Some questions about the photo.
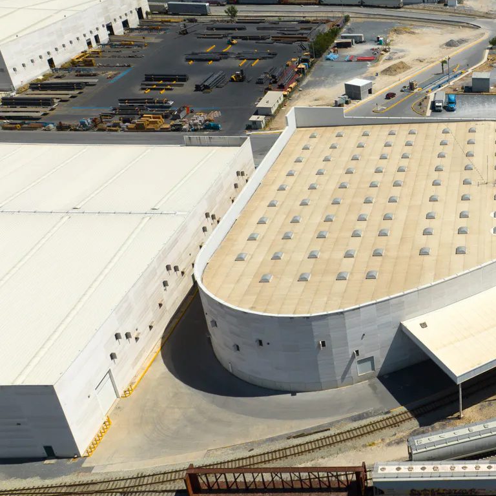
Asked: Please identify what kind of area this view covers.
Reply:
industrial area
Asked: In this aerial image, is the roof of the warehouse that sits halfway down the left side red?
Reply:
No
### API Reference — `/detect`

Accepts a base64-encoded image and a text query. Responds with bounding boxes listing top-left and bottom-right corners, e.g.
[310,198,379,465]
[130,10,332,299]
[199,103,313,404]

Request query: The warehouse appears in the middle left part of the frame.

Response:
[0,128,256,466]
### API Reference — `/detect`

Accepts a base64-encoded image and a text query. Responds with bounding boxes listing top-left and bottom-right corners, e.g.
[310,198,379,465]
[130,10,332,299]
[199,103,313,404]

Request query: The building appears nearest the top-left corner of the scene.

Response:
[0,0,150,89]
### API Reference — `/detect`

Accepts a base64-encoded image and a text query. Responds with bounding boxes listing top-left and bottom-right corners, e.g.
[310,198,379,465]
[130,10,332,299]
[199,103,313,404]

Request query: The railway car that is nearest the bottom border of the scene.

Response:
[371,459,496,496]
